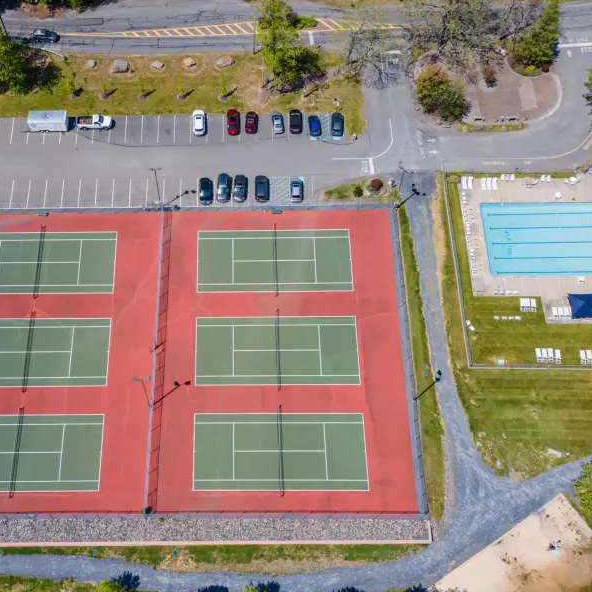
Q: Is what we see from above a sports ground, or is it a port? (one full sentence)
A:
The picture captures a sports ground.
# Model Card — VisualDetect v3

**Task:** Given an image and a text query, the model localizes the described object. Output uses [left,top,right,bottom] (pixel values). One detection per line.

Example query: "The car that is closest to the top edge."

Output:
[30,27,58,42]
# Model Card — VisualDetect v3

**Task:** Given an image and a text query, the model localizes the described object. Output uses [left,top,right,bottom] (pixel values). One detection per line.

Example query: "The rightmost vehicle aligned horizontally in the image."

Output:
[76,114,111,129]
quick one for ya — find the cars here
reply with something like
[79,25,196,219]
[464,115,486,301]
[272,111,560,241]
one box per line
[226,110,239,134]
[271,111,285,135]
[217,173,231,200]
[30,27,58,42]
[192,111,205,134]
[234,175,247,200]
[245,111,257,135]
[308,114,322,137]
[290,110,302,134]
[291,176,303,201]
[255,174,269,201]
[331,112,344,137]
[199,178,212,204]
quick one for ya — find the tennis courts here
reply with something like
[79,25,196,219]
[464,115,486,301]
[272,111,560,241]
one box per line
[0,310,111,392]
[195,309,361,389]
[193,405,369,496]
[0,407,104,498]
[197,221,353,297]
[0,224,117,298]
